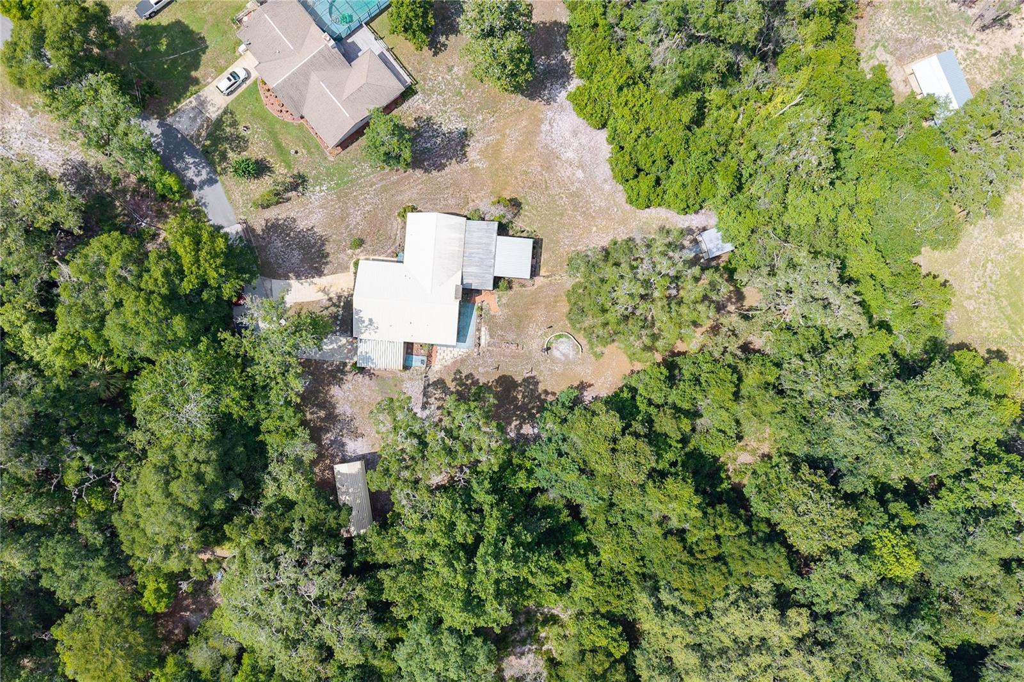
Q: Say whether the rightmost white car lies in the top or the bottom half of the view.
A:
top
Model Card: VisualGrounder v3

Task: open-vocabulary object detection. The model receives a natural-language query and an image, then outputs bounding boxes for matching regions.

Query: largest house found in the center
[353,213,466,346]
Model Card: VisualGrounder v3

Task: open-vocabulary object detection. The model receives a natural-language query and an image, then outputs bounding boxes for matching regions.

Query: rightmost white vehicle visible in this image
[212,65,248,94]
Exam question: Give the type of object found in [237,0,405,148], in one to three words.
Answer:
house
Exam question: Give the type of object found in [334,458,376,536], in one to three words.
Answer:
shed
